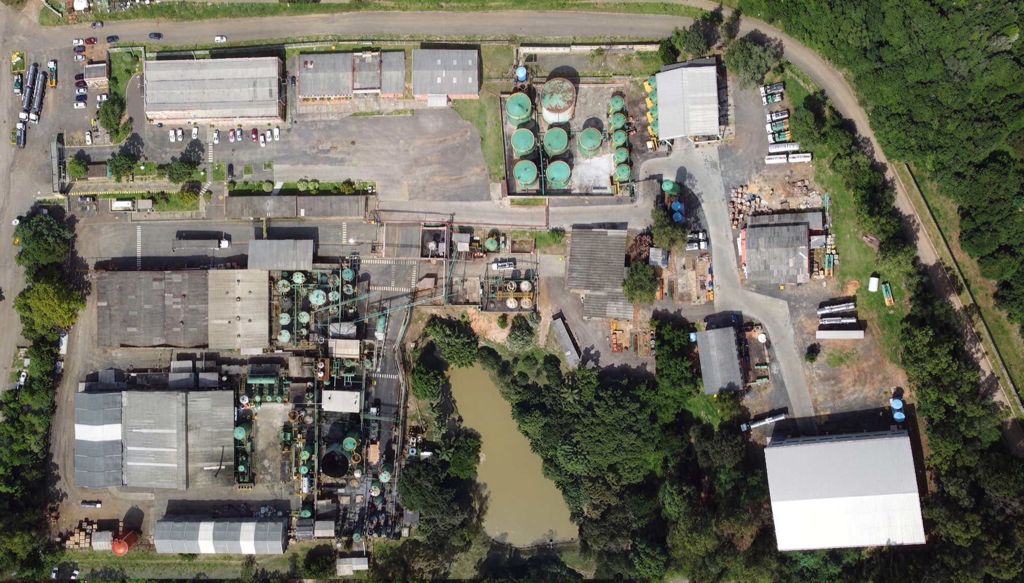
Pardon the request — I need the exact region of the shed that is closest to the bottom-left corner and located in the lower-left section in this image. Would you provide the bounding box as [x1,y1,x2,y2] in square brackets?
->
[91,528,118,550]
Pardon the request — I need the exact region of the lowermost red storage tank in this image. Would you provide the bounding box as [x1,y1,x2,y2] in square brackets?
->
[110,528,146,558]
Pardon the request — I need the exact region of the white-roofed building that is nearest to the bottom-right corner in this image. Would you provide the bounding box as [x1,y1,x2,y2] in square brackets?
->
[752,424,926,551]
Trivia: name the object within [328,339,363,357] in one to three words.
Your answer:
shed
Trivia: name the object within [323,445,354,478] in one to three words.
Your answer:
storage tank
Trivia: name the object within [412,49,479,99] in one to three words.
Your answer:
building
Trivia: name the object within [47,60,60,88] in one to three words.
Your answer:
vehicle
